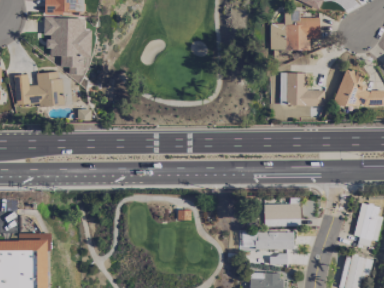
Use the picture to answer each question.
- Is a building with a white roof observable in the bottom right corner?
Yes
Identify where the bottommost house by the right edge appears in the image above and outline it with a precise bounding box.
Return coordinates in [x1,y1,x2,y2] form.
[340,255,374,288]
